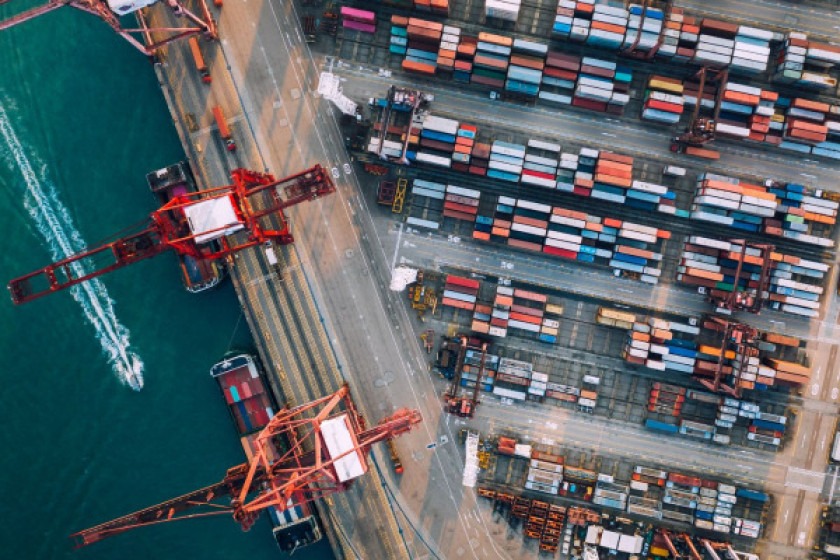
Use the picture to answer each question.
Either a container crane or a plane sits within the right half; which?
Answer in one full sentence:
The feature located within the right half is a container crane.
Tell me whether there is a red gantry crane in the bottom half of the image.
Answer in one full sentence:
Yes, in the bottom half of the image there is a red gantry crane.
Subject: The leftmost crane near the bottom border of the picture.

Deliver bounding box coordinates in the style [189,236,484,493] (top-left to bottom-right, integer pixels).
[58,377,420,553]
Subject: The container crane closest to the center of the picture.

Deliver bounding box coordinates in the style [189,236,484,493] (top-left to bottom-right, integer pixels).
[443,332,486,411]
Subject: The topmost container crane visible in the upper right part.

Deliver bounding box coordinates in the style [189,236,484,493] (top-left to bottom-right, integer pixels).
[608,0,660,63]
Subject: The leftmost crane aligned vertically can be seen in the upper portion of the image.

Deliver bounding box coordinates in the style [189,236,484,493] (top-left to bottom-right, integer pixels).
[380,84,423,167]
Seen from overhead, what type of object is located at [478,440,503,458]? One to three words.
work vehicle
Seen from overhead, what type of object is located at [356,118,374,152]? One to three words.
work vehicle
